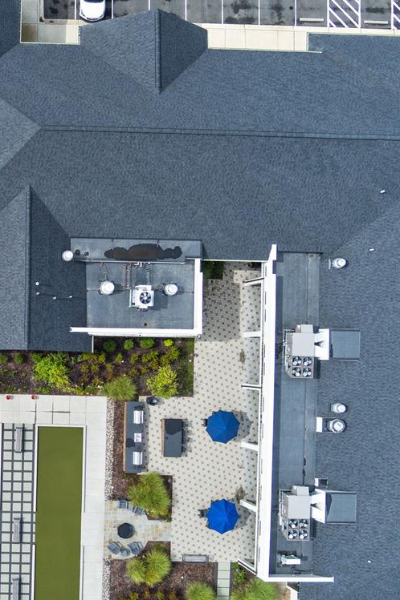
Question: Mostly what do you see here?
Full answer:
The largest share of the image is taken up by buildings.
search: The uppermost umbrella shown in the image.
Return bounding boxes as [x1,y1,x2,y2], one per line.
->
[203,409,238,442]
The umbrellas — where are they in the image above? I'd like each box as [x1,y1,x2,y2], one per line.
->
[203,498,237,532]
[203,409,238,442]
